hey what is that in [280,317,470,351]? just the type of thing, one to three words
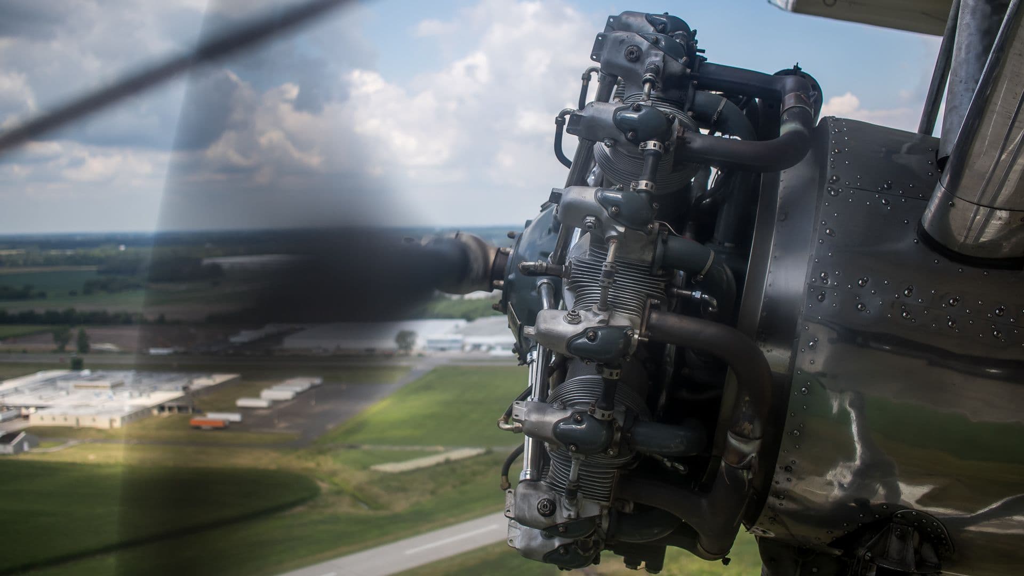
building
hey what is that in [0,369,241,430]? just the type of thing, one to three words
building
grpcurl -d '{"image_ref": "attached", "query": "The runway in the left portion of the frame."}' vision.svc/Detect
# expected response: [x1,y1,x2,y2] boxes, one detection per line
[265,512,513,576]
